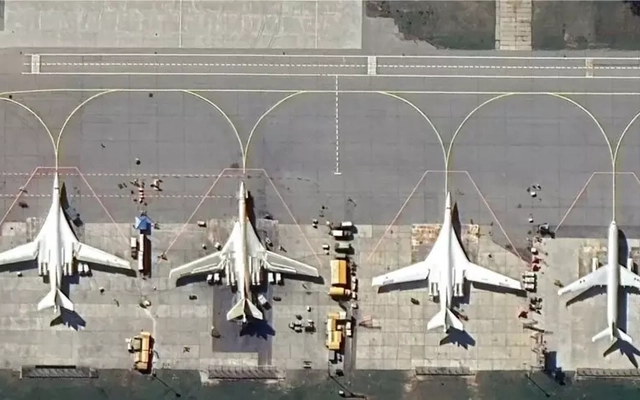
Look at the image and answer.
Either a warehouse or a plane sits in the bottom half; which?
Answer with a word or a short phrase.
plane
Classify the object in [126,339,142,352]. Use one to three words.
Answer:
vehicle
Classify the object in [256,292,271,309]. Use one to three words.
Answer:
vehicle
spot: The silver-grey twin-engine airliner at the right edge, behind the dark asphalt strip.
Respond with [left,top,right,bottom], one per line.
[558,222,640,344]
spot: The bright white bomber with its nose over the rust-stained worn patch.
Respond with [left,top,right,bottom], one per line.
[372,192,521,331]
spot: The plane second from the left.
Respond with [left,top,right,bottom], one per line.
[168,179,318,320]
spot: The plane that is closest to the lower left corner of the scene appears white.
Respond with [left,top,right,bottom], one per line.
[0,172,130,311]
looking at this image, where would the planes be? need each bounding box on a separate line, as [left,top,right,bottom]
[558,222,640,344]
[0,172,130,311]
[168,179,318,320]
[372,192,521,331]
